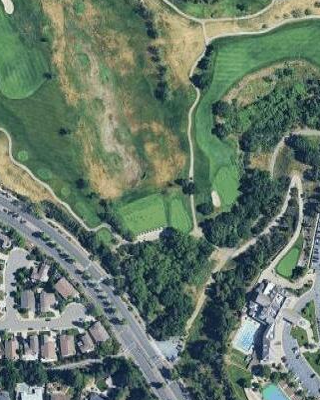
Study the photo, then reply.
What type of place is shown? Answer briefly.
golf course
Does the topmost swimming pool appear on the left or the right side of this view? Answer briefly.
right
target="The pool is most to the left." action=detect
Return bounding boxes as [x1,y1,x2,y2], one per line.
[231,315,261,350]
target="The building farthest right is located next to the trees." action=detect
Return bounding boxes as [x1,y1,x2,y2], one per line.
[245,278,292,334]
